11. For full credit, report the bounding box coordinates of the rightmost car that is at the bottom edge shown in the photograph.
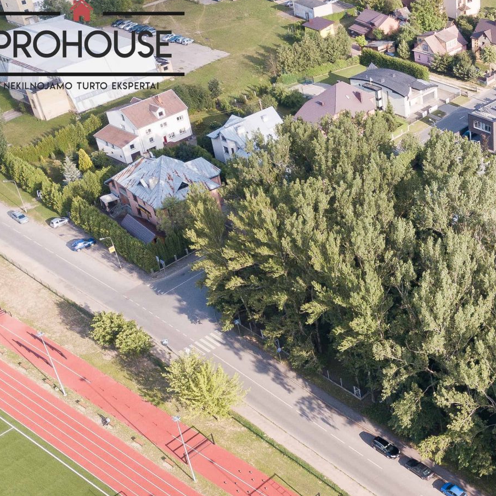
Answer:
[439,482,469,496]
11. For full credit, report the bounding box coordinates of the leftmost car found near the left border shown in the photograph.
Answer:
[10,210,30,223]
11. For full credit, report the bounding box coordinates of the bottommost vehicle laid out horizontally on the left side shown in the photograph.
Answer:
[69,238,98,251]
